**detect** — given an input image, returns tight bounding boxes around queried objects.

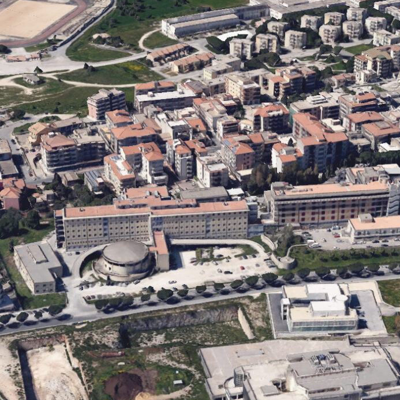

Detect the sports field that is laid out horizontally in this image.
[0,0,78,38]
